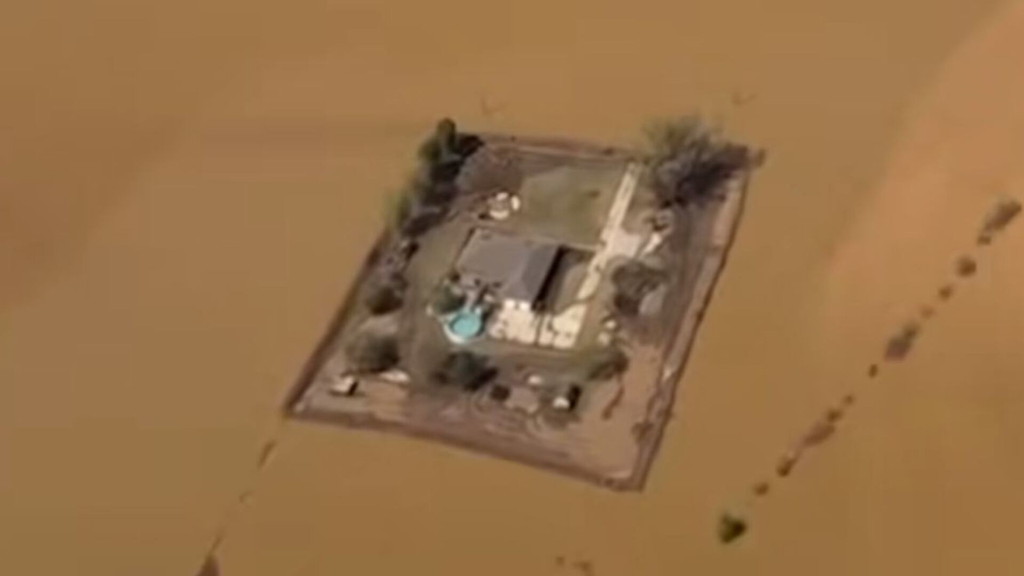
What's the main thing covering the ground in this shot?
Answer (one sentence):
What you mostly see from above here is water.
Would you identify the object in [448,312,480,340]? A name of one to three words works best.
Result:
swimming pool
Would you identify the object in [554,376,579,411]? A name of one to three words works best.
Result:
shed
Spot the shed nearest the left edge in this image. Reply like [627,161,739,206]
[333,373,357,396]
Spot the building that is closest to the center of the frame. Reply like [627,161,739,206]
[457,230,559,312]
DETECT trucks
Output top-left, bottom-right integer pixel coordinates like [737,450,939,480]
[644,231,665,252]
